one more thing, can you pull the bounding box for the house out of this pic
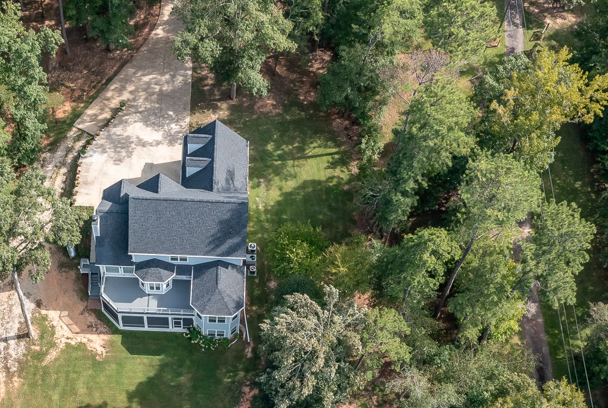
[84,117,253,363]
